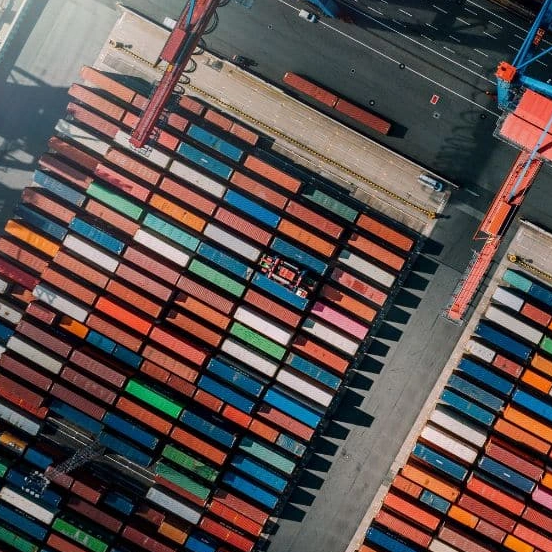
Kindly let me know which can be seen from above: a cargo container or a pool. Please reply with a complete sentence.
The image shows a cargo container.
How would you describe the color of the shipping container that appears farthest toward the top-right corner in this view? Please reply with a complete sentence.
The color of the shipping container that appears farthest toward the top-right corner is red.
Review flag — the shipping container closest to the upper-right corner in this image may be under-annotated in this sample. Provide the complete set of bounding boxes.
[335,98,393,137]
